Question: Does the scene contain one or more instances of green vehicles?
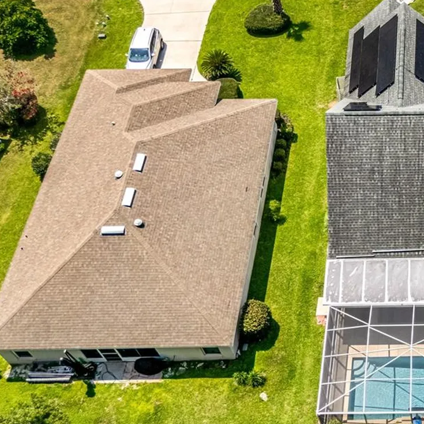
No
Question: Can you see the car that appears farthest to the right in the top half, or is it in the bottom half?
top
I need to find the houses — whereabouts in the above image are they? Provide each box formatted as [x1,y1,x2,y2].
[0,68,280,363]
[317,0,424,310]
